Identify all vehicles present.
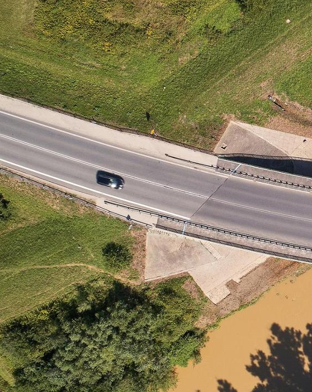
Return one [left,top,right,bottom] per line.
[96,172,125,187]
